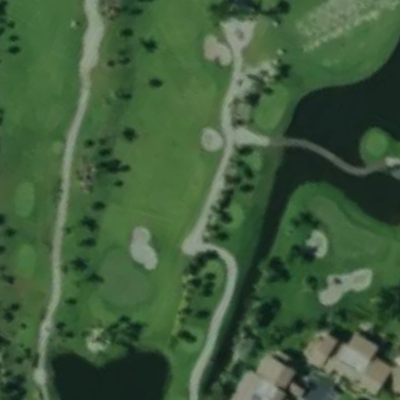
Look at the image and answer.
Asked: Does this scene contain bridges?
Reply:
Yes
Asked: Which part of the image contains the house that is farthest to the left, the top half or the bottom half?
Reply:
bottom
